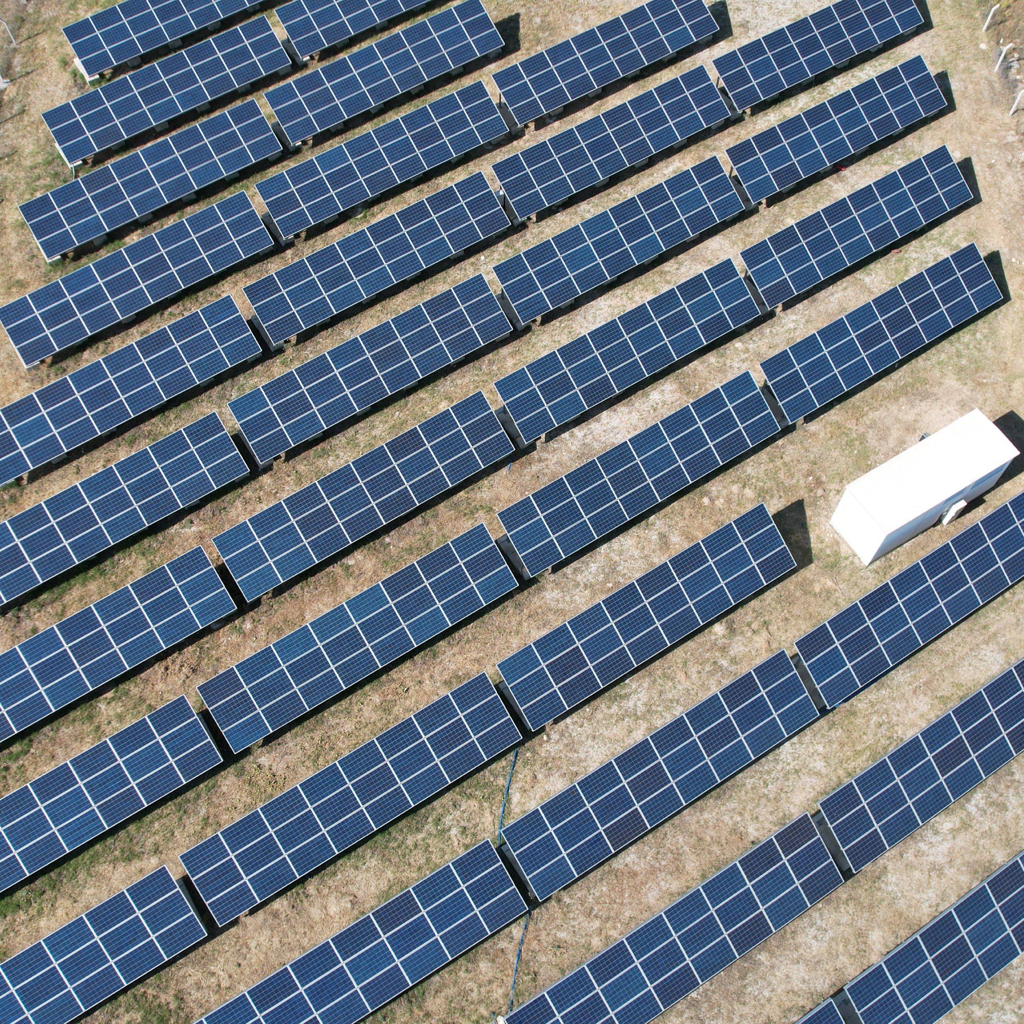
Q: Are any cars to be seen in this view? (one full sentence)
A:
No, the frame has no car in it.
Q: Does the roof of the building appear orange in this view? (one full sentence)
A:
No, from above the roof of the building looks white.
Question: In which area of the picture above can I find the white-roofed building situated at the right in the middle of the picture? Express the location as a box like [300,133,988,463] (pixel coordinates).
[830,409,1020,566]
